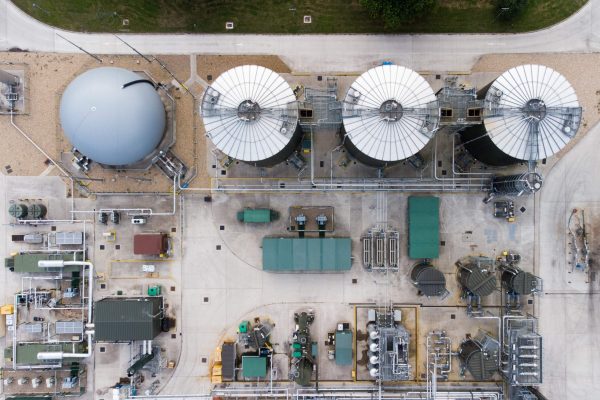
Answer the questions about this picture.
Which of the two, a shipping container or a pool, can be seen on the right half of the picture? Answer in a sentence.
It is a shipping container that can be seen on the right half of the picture.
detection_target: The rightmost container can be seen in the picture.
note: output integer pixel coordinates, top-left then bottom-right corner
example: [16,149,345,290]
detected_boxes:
[403,196,439,259]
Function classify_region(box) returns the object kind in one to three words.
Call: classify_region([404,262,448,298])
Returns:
storage tank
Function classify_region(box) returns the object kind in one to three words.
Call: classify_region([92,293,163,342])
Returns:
building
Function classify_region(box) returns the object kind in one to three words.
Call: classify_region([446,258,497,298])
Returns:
storage tank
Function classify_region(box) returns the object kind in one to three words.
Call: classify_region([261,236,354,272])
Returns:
house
